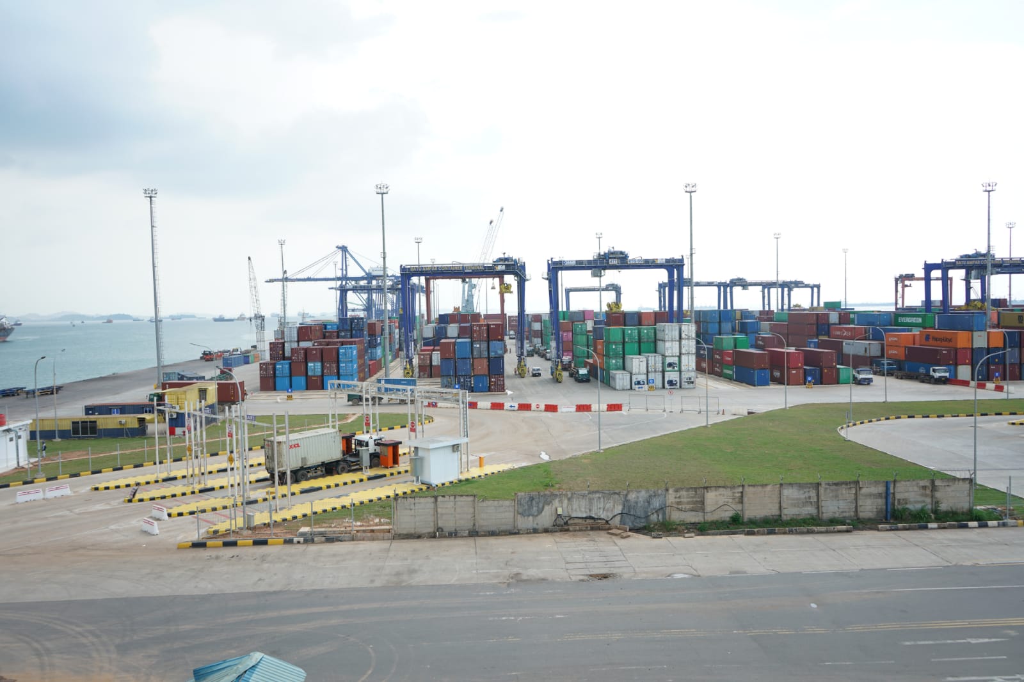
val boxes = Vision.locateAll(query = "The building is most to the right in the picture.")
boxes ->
[397,430,468,485]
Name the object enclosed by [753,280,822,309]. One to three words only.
container crane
